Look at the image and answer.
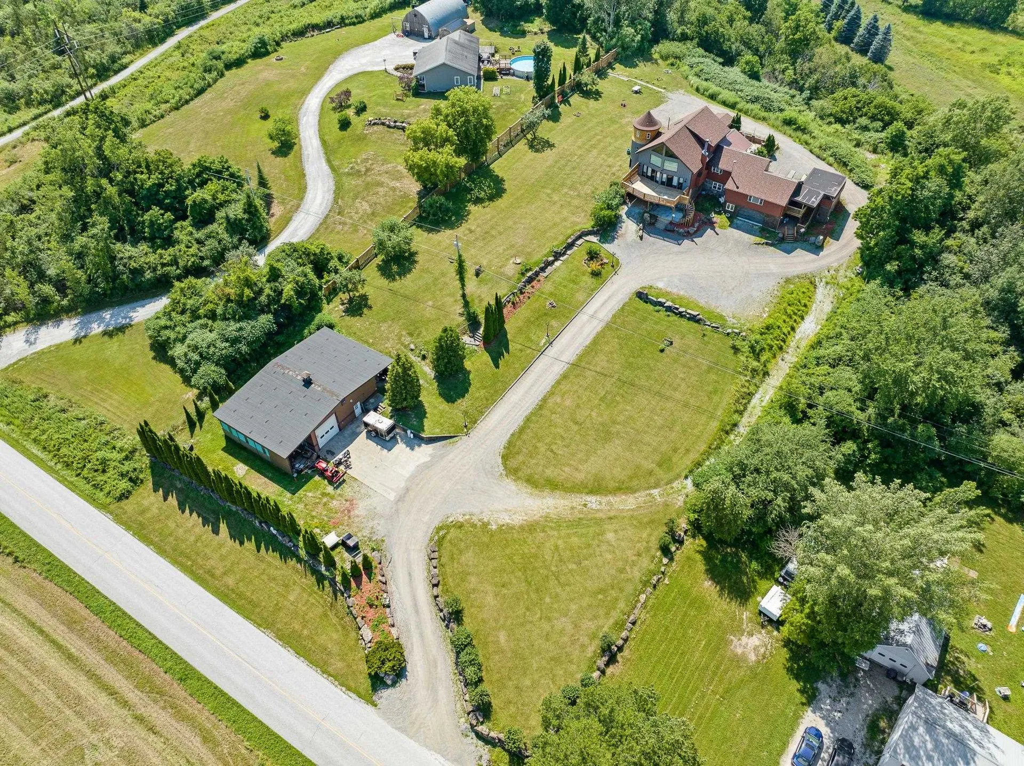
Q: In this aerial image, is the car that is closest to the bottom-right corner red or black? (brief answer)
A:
black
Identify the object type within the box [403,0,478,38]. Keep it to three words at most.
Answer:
barn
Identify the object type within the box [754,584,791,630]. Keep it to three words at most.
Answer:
trailer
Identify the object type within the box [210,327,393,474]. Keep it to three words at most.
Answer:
building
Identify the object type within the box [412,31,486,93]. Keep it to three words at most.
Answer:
house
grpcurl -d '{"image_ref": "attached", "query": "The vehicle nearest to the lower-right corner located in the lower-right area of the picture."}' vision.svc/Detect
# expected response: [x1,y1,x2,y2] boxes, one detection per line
[831,733,856,766]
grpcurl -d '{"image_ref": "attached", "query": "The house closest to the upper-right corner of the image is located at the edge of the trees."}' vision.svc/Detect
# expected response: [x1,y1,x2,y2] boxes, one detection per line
[620,103,849,240]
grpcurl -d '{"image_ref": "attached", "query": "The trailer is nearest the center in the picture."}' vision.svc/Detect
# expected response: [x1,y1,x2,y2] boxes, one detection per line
[363,411,396,440]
